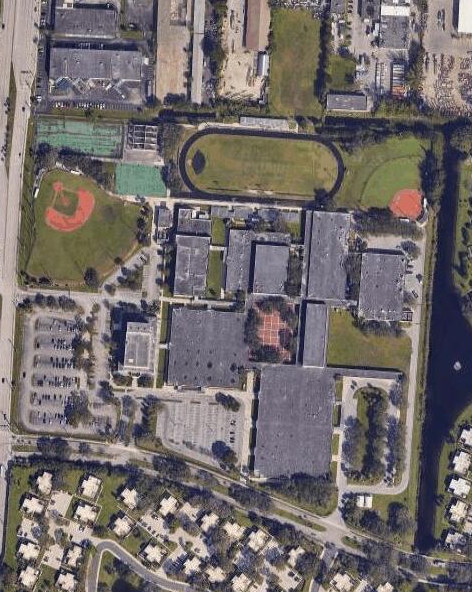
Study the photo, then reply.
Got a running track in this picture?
Yes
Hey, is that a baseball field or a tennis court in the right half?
baseball field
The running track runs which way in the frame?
from side to side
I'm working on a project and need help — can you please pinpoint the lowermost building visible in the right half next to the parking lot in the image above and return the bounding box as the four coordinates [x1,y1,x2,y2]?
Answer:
[254,367,335,478]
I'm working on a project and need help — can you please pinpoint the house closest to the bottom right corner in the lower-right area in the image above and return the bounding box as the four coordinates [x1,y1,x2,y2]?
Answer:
[445,529,468,550]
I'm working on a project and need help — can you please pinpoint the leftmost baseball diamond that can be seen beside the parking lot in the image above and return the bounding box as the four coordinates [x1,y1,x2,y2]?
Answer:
[26,165,142,282]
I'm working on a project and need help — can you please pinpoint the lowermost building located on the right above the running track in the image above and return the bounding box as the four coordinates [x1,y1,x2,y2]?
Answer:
[327,95,367,111]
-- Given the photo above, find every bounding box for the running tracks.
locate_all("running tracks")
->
[179,128,345,202]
